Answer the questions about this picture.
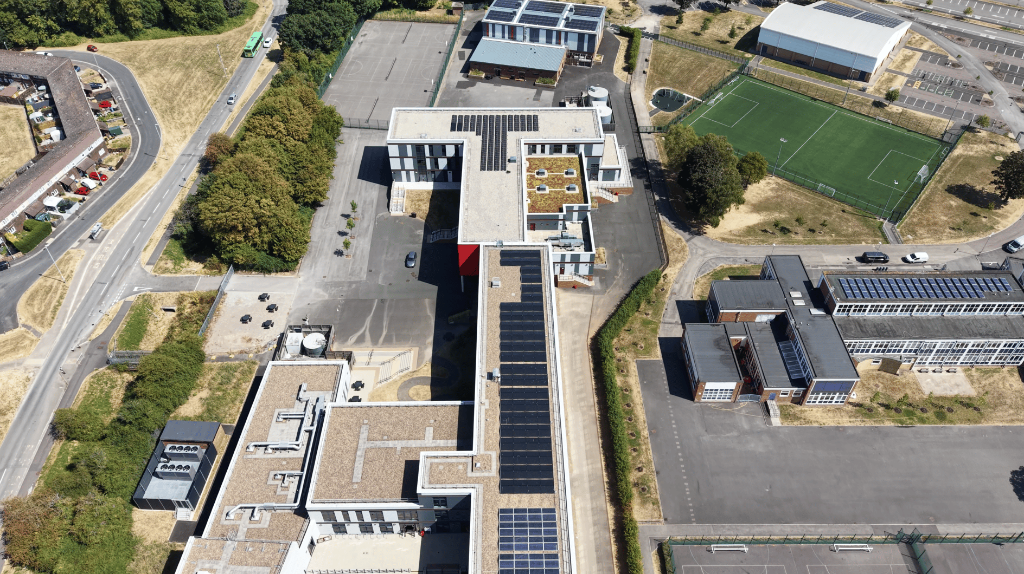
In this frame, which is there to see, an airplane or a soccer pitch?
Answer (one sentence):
Visible in the photo is a soccer pitch.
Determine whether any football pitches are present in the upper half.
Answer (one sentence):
Yes, I can see a football pitch in the upper half.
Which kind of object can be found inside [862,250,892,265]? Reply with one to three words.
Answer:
vehicle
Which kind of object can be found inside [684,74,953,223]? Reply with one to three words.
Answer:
soccer field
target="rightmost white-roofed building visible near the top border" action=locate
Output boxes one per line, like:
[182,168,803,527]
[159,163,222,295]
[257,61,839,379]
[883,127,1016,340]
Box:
[758,0,913,81]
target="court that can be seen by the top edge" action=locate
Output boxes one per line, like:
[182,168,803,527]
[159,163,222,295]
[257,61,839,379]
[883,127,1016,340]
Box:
[327,20,459,127]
